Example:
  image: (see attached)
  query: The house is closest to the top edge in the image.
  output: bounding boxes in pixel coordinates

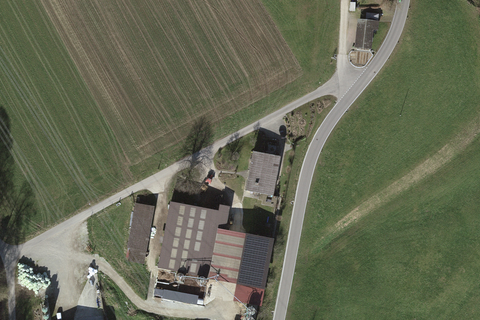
[355,19,380,50]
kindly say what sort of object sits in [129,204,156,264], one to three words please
shed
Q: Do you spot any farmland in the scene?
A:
Yes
